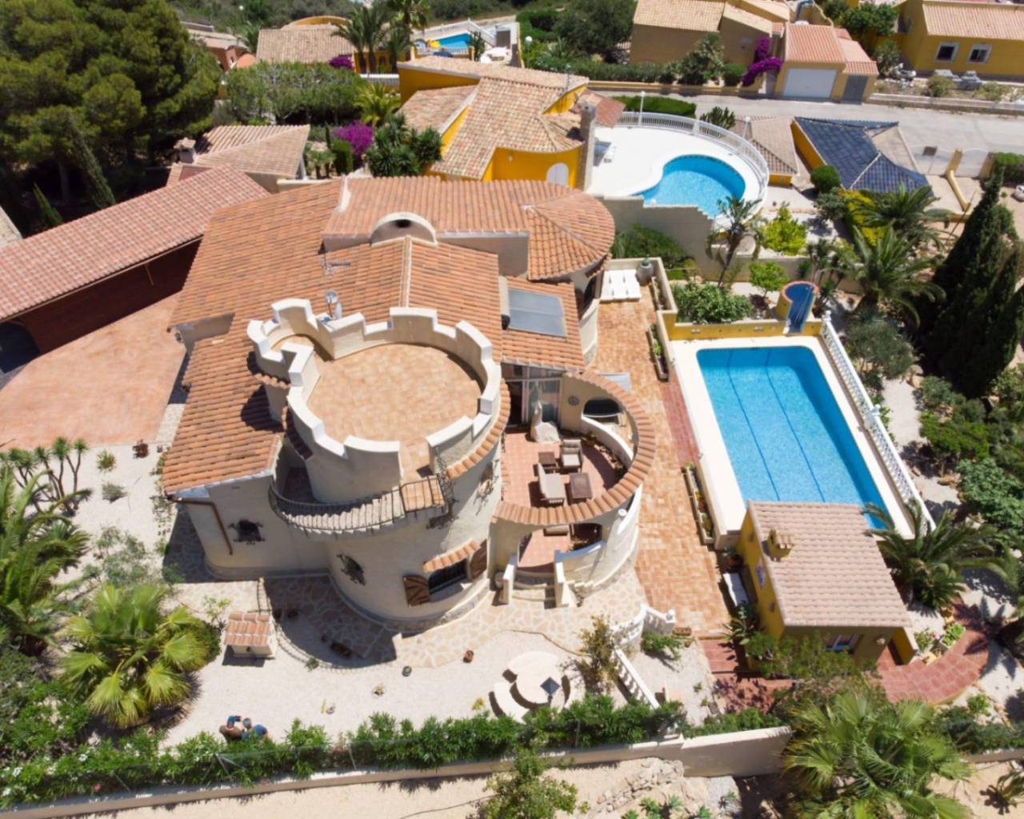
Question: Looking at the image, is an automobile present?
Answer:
No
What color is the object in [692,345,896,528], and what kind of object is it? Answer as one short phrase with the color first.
blue swimming pool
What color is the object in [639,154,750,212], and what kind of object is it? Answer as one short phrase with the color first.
blue swimming pool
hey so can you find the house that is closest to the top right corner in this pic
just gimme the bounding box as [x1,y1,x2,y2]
[859,0,1024,85]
